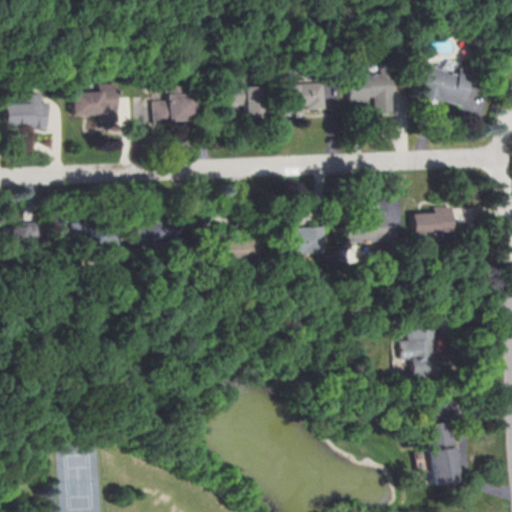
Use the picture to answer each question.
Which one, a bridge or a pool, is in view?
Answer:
pool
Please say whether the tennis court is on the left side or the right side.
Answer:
left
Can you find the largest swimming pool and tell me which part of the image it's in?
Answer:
top right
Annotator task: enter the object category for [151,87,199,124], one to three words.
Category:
house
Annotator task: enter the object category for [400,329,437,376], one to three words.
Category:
house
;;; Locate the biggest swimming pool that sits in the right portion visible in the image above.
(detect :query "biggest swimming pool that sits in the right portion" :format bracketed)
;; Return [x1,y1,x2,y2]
[428,36,459,64]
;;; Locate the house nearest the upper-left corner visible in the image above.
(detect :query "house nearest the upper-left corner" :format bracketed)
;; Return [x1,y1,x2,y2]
[8,92,48,130]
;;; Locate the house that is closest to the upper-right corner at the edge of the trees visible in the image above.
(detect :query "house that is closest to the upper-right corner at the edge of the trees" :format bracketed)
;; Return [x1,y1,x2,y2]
[428,68,476,108]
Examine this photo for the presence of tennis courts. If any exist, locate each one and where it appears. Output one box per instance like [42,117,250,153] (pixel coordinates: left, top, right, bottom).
[56,444,102,512]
